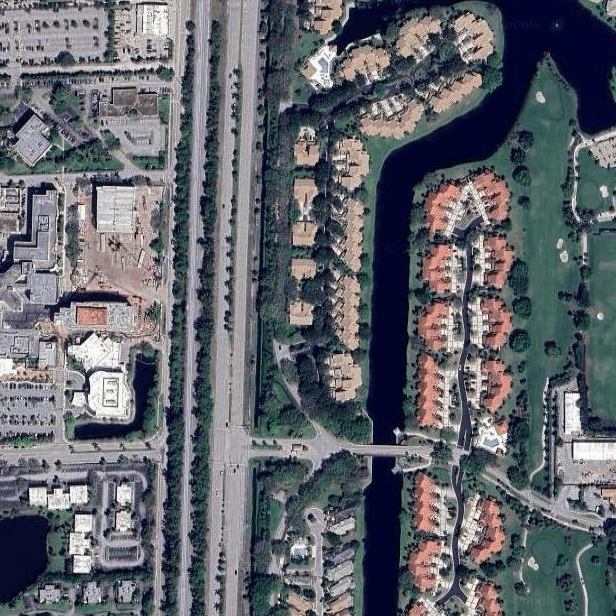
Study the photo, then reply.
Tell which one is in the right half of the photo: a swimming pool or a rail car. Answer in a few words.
swimming pool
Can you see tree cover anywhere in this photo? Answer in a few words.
Yes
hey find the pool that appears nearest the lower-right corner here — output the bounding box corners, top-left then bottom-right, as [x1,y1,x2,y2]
[476,417,507,451]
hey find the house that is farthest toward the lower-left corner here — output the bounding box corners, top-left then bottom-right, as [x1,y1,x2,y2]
[41,585,62,604]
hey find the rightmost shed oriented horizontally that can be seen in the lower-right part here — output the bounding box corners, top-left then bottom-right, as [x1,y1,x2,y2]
[574,442,616,461]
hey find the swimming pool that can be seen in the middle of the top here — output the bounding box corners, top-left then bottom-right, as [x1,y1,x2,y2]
[309,46,337,86]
